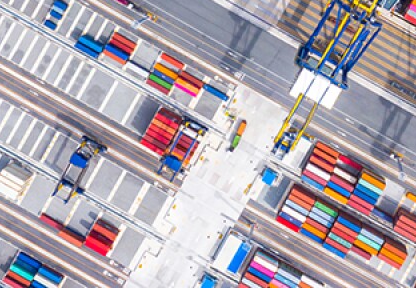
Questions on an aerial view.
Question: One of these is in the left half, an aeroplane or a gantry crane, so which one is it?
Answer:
gantry crane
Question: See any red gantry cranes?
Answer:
No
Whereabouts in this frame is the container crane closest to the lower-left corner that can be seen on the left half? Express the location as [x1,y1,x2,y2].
[49,137,107,204]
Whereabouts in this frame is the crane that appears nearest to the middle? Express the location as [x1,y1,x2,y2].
[156,117,207,184]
